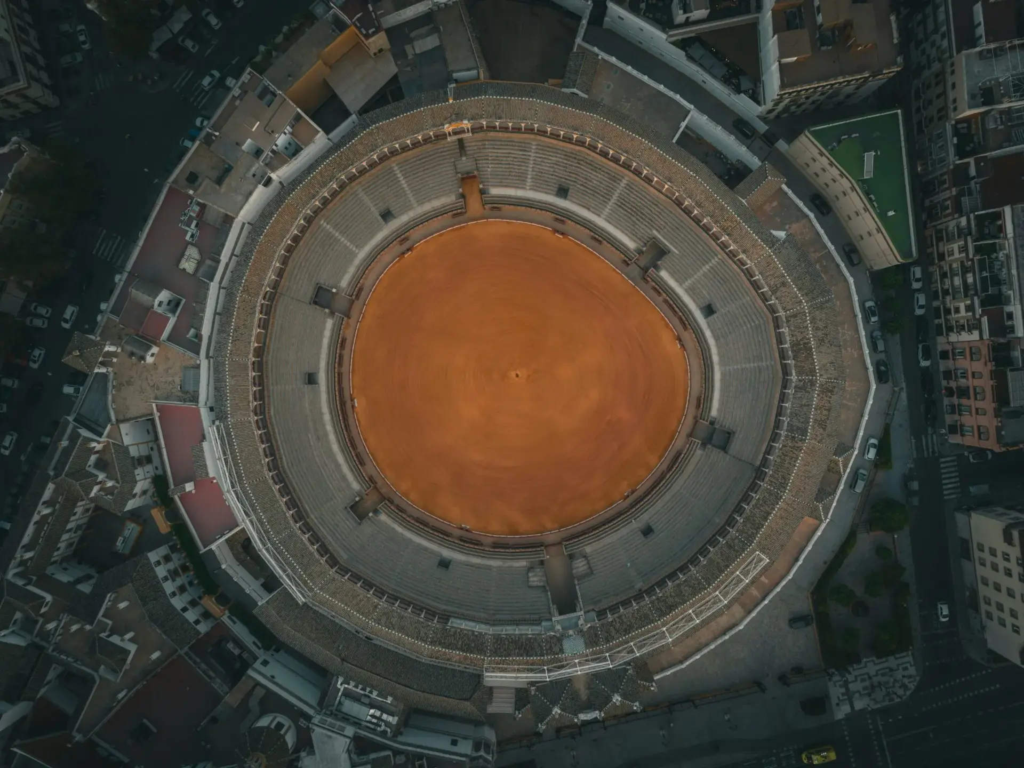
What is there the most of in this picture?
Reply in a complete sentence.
What you mostly see from above here is buildings.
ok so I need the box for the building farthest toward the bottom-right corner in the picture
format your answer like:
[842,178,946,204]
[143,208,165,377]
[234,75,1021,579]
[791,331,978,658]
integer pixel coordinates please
[954,500,1024,661]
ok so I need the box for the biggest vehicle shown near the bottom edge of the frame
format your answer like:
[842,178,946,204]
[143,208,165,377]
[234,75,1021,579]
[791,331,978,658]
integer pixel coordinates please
[802,745,837,765]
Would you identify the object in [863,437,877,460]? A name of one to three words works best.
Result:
car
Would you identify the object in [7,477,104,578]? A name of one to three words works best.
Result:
house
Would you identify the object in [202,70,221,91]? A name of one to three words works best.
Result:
car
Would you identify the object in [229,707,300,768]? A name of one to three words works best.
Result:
building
